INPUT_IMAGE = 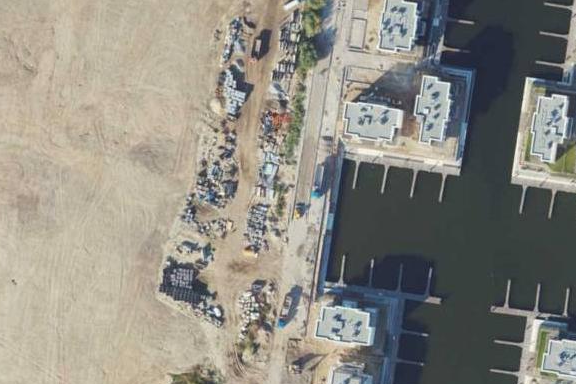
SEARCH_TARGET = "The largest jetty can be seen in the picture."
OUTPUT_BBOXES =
[491,306,569,321]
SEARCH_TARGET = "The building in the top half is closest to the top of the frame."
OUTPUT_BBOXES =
[378,0,425,53]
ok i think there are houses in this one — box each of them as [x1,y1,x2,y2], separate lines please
[343,98,403,141]
[540,334,576,376]
[314,301,374,345]
[378,0,425,53]
[414,75,458,143]
[530,95,572,162]
[332,369,373,384]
